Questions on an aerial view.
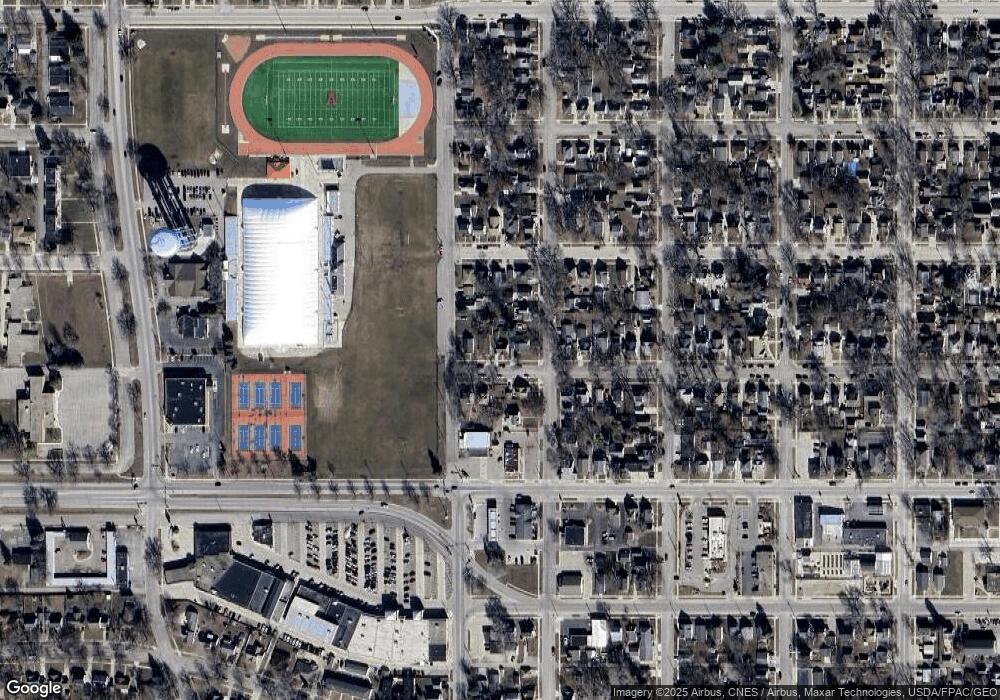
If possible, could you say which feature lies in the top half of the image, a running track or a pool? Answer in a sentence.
It is a running track that can be seen in the top half of the image.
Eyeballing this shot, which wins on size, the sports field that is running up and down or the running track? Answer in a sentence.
Of the two, the sports field is larger and the running track is the smaller one.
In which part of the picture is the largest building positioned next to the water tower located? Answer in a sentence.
The largest building positioned next to the water tower is located in the left region of the scene.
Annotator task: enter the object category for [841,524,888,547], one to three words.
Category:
shed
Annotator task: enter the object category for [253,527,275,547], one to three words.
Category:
building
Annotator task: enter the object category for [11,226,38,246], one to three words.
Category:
house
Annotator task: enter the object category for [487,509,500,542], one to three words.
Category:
building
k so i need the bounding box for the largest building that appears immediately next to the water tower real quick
[166,264,208,297]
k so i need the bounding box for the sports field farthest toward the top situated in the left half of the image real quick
[243,57,399,142]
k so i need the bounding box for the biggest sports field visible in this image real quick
[308,175,437,478]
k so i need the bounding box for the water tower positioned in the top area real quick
[149,226,203,260]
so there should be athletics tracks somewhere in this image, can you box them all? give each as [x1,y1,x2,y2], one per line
[229,43,433,155]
